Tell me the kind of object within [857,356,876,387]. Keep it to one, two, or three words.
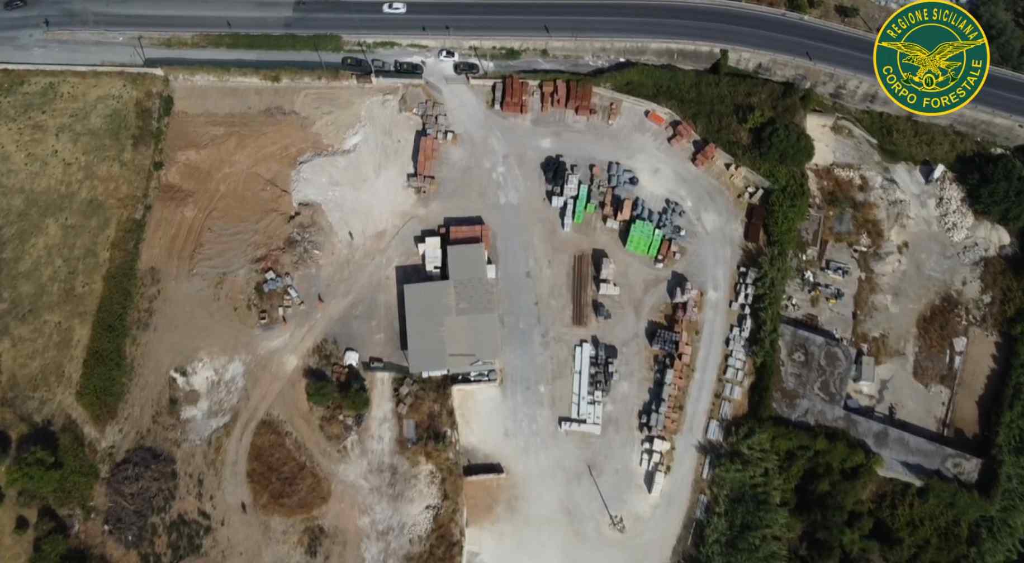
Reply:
shed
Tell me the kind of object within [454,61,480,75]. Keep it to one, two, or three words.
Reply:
vehicle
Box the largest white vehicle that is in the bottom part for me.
[343,348,358,367]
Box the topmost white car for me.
[383,1,407,14]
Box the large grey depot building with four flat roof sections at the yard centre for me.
[403,243,498,374]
